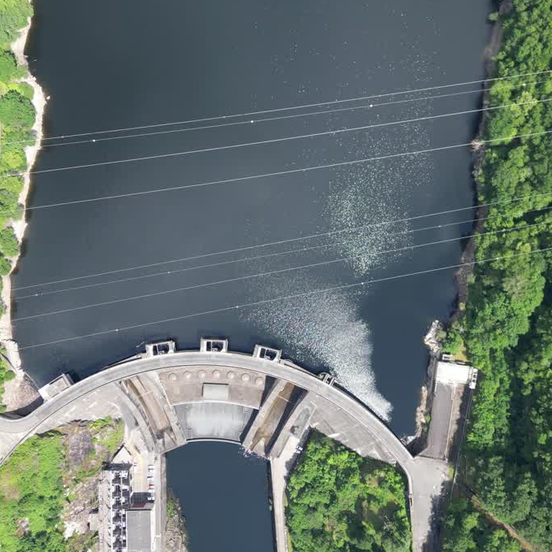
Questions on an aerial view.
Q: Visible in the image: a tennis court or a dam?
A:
dam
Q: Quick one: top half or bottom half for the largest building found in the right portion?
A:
bottom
